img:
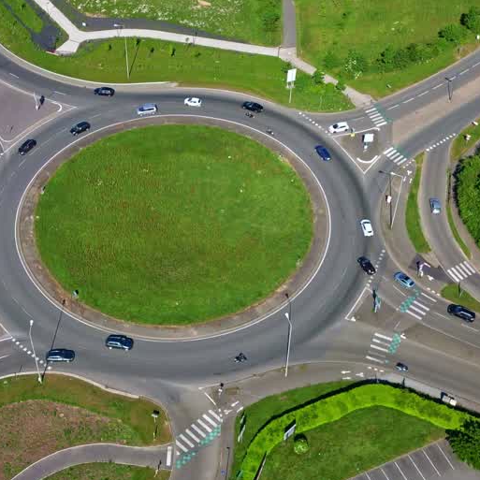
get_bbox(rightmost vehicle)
[446,304,475,323]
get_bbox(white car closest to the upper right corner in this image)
[330,121,352,133]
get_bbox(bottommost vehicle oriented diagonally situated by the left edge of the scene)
[18,139,39,156]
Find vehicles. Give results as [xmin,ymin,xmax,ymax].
[241,101,263,112]
[183,96,201,107]
[446,304,475,323]
[315,145,331,160]
[430,198,441,214]
[105,336,132,350]
[94,87,114,96]
[46,348,75,363]
[393,272,417,289]
[18,139,39,156]
[393,361,411,373]
[359,219,373,238]
[70,119,92,135]
[136,103,158,116]
[330,121,352,133]
[356,255,376,276]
